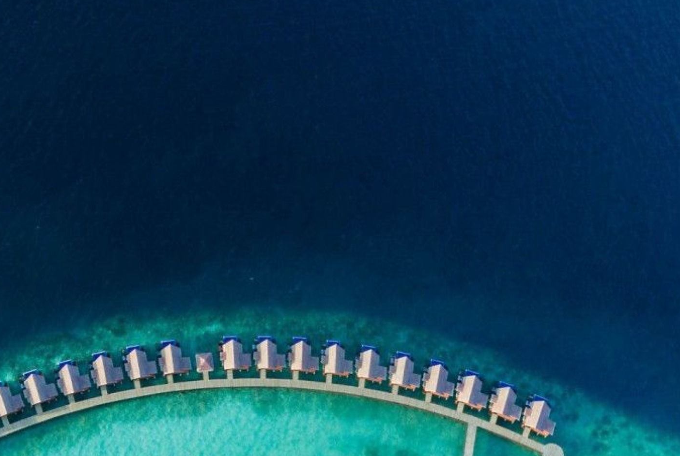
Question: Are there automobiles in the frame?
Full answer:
No, the picture doesn't show any automobile.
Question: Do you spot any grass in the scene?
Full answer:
No, there's no grass in this view.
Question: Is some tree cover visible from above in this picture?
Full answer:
No, there is no tree cover in the image.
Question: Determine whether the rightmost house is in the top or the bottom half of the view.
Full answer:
The rightmost house is in the bottom half of the image.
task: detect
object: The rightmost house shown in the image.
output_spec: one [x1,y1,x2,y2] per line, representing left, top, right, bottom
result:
[519,395,553,434]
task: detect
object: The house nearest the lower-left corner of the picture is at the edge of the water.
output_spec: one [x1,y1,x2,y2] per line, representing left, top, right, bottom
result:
[0,379,27,416]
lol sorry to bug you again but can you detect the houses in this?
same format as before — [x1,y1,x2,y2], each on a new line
[122,344,157,379]
[56,359,91,395]
[89,351,125,385]
[387,353,420,389]
[21,369,59,404]
[156,340,192,374]
[0,379,27,416]
[453,371,486,408]
[285,338,318,372]
[420,359,453,397]
[319,341,352,376]
[354,345,386,382]
[486,380,520,419]
[218,337,251,371]
[251,337,285,371]
[519,395,553,434]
